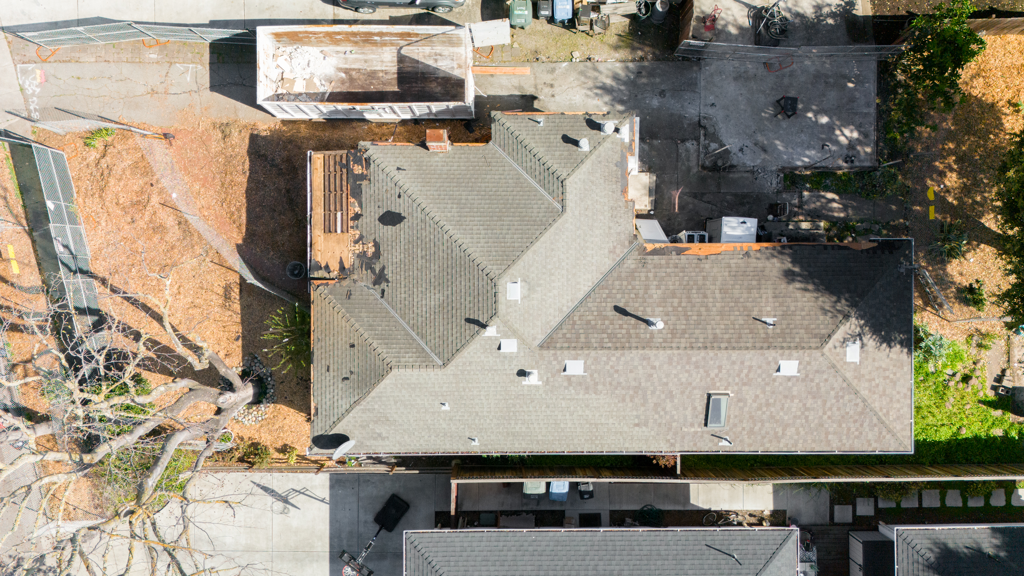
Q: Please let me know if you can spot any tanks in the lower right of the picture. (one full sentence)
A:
No, I see no tank in the lower right of the picture.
